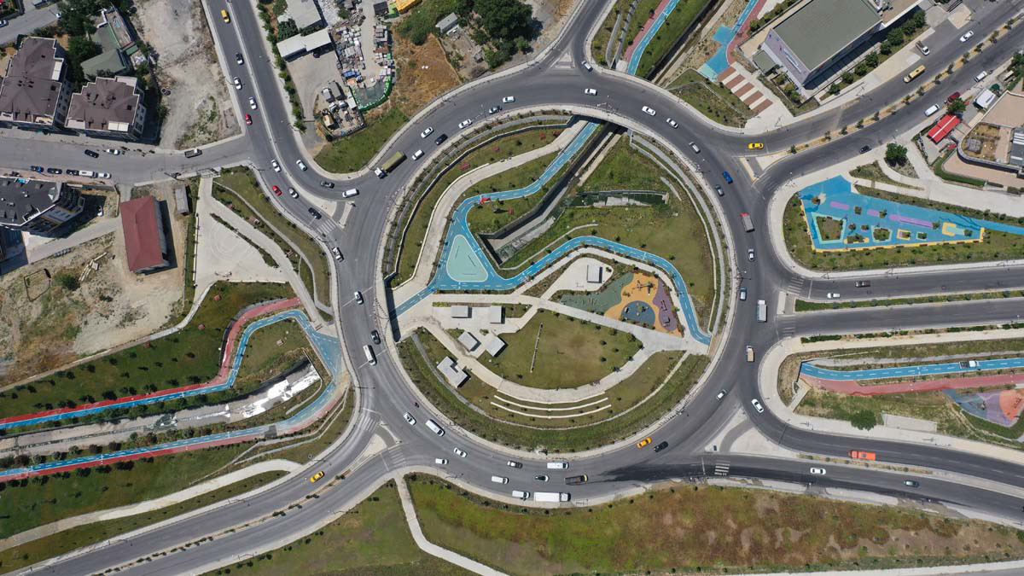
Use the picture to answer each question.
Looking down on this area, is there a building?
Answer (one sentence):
Yes, a building appears in the view.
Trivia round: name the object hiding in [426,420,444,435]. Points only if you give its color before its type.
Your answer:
white vehicle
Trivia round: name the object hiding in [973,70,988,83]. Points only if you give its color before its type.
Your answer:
white vehicle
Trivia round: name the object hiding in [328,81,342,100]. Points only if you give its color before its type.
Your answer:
gray vehicle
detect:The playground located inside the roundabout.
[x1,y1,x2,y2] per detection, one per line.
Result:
[559,273,681,336]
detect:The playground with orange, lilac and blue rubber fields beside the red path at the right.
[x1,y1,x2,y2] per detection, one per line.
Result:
[942,388,1024,427]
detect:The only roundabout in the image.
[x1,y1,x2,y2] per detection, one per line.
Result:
[309,50,812,497]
